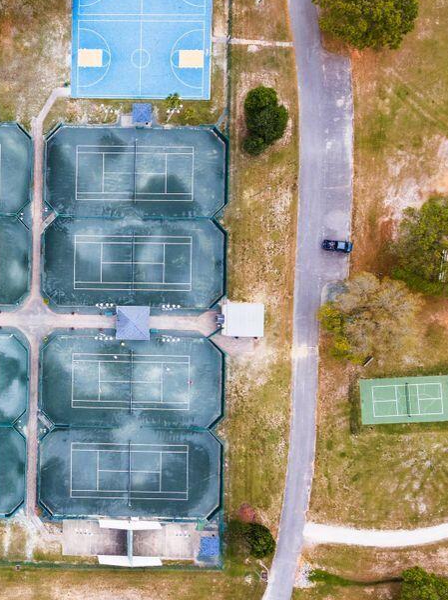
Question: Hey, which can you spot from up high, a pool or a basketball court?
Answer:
basketball court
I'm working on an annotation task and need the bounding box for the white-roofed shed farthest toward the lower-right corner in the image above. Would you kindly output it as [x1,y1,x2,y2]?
[220,302,265,338]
